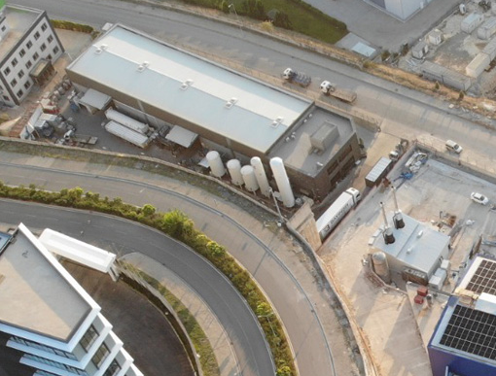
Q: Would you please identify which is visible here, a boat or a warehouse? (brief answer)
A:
warehouse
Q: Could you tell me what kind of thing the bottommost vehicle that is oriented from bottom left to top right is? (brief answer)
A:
truck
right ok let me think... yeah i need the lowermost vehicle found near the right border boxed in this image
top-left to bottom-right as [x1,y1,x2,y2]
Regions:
[468,191,490,205]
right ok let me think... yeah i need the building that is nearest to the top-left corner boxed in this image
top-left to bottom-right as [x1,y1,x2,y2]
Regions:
[0,0,65,107]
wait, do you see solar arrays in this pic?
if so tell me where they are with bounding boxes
[443,304,496,361]
[469,260,496,294]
